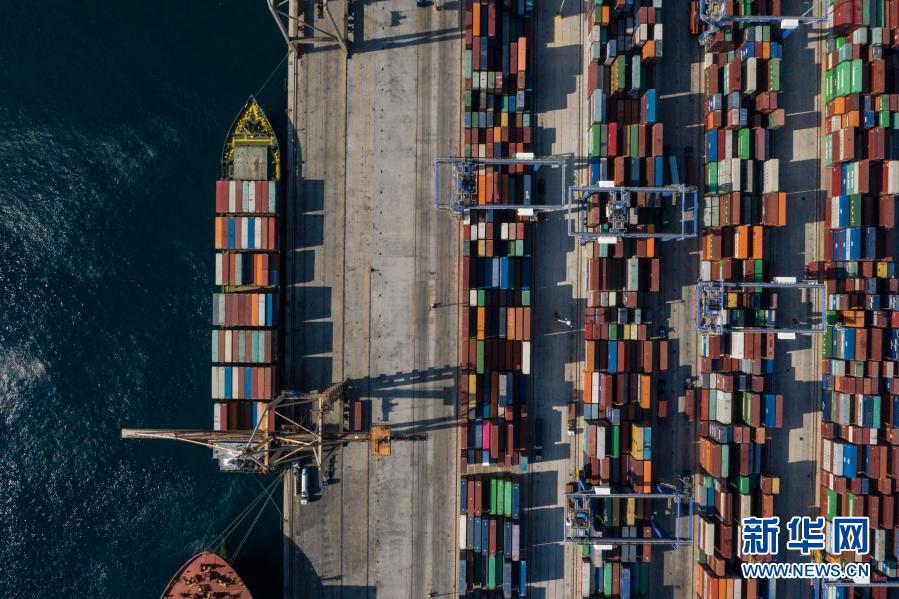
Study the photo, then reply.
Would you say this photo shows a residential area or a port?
port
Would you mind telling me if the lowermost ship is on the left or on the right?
left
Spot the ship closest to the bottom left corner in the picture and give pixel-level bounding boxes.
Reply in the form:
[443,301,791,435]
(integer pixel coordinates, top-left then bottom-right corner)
[161,550,252,599]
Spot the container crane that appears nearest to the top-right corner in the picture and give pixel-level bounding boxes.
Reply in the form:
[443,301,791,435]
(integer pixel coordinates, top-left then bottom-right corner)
[698,0,830,50]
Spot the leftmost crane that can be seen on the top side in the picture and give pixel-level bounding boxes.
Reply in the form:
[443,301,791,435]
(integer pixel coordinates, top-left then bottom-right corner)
[263,0,348,68]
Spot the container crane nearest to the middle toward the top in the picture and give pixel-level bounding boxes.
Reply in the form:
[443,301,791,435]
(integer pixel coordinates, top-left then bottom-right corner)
[437,148,565,225]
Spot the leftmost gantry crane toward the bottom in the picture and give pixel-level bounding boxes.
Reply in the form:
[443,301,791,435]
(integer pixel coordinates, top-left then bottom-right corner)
[119,377,424,469]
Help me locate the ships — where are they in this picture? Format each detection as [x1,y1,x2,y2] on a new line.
[210,95,282,471]
[161,550,252,599]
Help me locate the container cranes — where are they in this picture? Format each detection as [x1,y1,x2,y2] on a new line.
[119,377,424,469]
[694,274,826,343]
[437,148,565,225]
[568,177,697,249]
[565,471,694,553]
[263,0,348,68]
[698,0,830,50]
